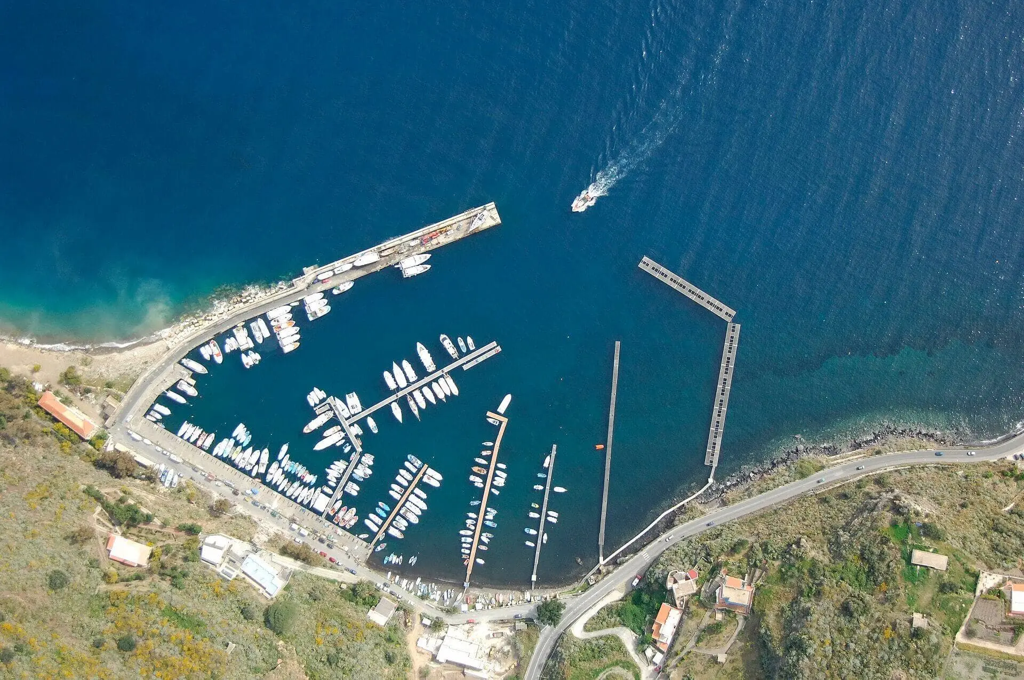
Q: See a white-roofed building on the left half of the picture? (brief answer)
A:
Yes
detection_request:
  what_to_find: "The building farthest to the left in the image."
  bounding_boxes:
[38,391,99,439]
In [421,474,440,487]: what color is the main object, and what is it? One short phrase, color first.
white boat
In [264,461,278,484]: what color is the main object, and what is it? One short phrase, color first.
white boat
